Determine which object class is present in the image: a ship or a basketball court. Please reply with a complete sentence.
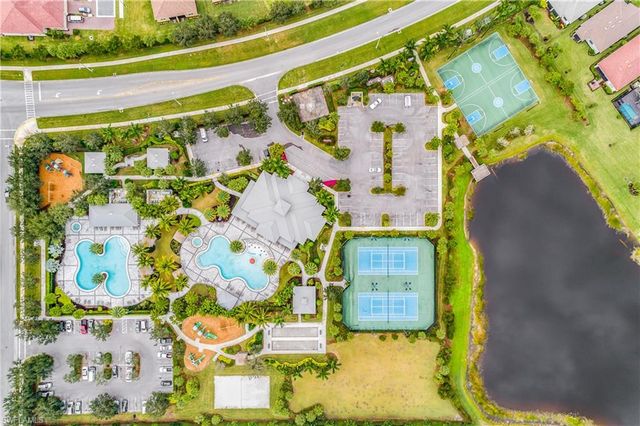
Visible in the photo is a basketball court.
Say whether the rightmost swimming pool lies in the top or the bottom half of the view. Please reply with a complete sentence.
The rightmost swimming pool is in the top half of the image.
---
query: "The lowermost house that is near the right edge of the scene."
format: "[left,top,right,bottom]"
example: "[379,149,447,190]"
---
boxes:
[593,35,640,92]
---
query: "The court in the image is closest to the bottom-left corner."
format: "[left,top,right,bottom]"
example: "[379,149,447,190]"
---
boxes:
[214,375,270,411]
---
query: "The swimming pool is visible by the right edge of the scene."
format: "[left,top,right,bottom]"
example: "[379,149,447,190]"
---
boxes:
[617,102,640,125]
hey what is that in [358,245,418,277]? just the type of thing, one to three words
tennis court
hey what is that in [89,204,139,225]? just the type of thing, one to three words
building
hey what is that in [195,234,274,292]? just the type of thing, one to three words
swimming pool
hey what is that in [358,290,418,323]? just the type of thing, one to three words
tennis court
